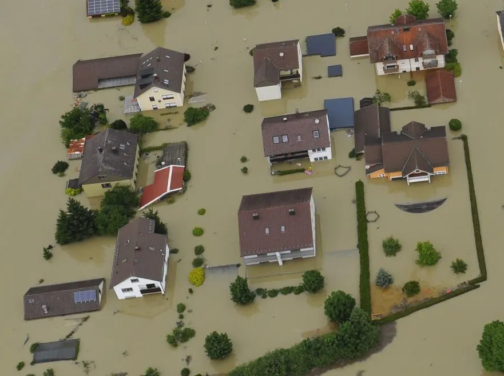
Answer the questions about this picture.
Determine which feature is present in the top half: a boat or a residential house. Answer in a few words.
residential house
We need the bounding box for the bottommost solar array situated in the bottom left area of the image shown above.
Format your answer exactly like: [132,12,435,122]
[75,290,97,303]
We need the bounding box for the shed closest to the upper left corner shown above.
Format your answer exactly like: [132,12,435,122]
[87,0,121,18]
